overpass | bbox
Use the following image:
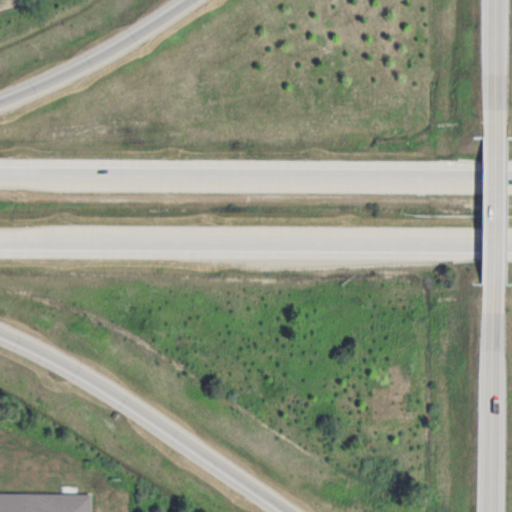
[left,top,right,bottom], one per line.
[473,136,512,286]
